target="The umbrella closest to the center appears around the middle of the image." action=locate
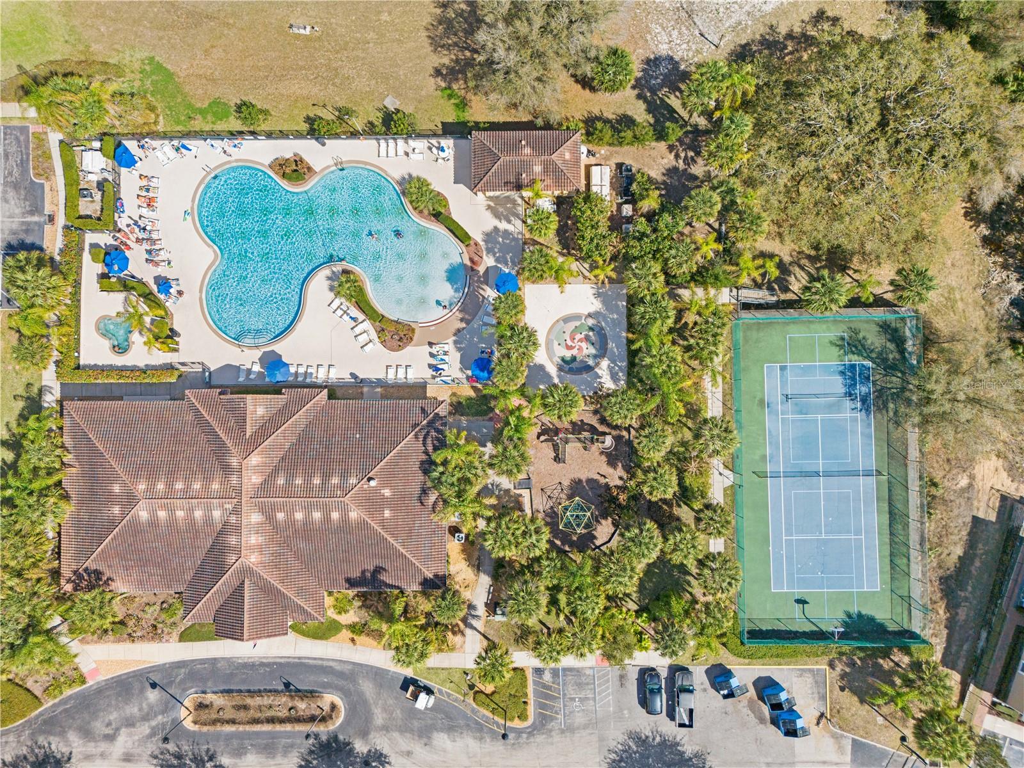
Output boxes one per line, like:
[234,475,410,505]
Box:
[470,356,494,381]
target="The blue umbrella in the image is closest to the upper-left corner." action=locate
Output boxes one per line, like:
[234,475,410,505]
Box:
[113,143,141,170]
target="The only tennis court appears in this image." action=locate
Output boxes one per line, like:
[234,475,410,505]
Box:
[733,318,912,634]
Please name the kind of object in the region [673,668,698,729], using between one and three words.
truck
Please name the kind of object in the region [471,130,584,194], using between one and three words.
building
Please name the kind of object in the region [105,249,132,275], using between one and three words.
umbrella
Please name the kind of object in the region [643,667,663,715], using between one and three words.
car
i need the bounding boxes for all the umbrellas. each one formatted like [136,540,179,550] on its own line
[159,279,179,295]
[265,358,291,383]
[105,249,132,275]
[495,271,518,294]
[470,356,494,381]
[113,143,141,170]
